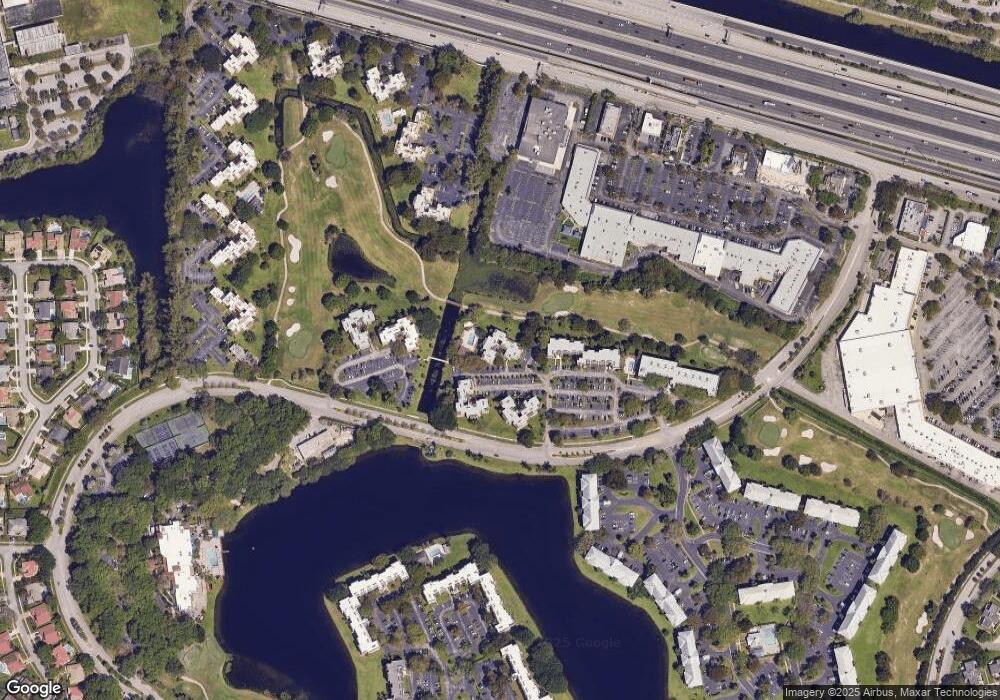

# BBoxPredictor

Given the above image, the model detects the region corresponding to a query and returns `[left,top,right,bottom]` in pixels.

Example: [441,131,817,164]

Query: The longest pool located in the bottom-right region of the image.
[765,624,780,656]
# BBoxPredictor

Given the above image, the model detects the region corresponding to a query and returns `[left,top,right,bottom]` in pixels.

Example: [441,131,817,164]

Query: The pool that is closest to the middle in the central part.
[463,326,478,350]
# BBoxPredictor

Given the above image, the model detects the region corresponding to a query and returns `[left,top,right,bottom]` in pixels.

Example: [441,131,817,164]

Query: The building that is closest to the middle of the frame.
[481,329,521,361]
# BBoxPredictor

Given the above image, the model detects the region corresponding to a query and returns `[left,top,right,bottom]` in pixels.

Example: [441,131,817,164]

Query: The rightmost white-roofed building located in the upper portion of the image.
[953,222,990,254]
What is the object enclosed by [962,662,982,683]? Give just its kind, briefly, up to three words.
house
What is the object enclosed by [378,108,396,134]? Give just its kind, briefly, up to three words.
swimming pool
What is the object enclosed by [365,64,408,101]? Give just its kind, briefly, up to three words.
building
